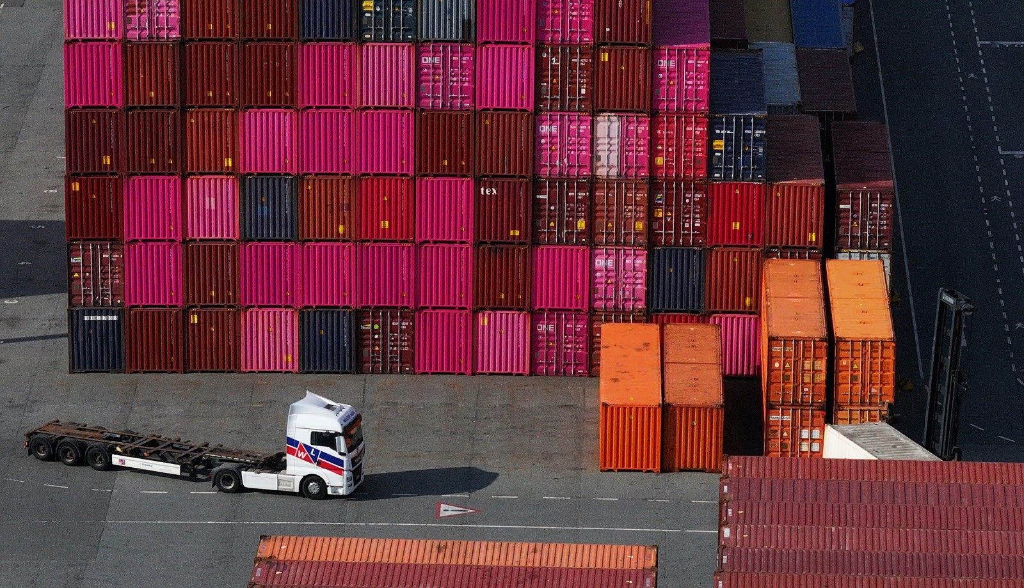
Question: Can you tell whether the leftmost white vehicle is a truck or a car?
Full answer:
Looking closely, the leftmost white vehicle is a truck.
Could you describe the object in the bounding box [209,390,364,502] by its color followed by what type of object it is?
white truck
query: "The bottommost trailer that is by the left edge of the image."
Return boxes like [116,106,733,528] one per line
[23,419,286,481]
